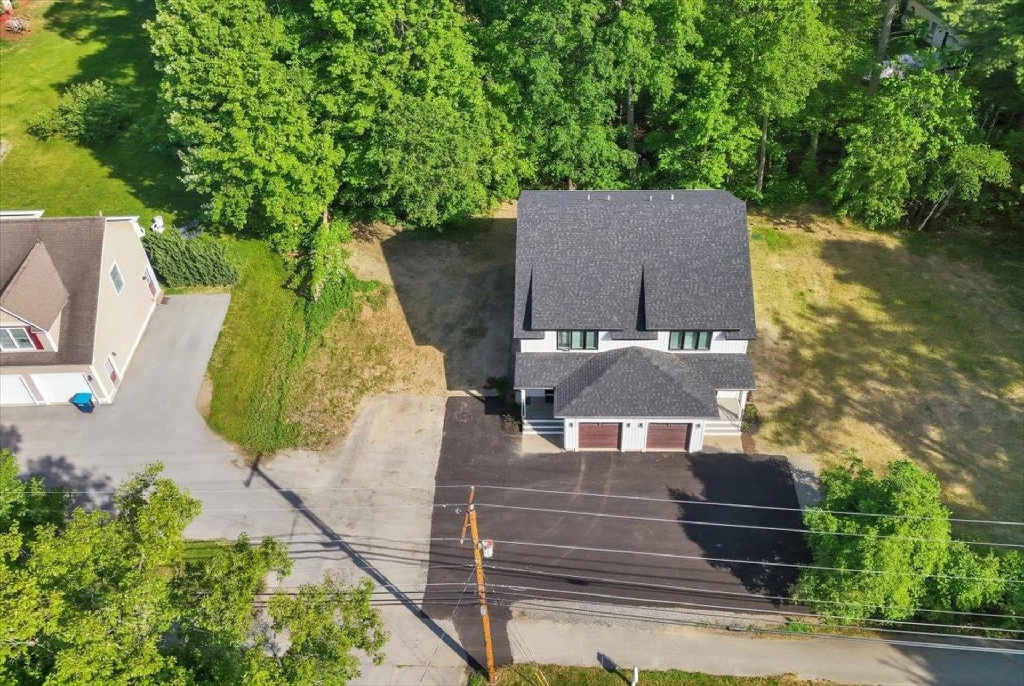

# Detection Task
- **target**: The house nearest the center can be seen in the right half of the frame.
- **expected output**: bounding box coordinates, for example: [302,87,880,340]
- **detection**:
[513,188,758,456]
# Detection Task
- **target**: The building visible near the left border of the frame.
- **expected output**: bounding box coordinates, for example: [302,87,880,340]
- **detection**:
[0,209,174,407]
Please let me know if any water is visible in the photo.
No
